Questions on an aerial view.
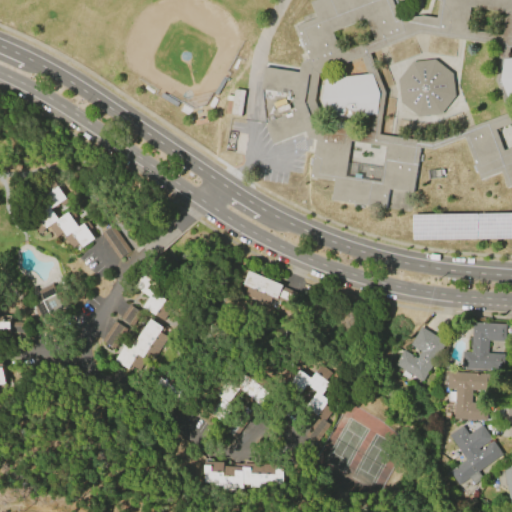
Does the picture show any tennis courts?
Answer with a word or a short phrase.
Yes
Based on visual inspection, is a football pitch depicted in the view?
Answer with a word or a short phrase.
No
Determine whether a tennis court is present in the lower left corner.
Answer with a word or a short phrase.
No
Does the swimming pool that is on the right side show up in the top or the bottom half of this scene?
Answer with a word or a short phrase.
bottom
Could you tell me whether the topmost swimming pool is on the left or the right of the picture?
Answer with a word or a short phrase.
left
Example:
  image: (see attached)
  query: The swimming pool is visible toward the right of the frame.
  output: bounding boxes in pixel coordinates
[450,328,474,366]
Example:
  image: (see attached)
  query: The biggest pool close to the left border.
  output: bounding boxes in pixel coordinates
[20,244,63,289]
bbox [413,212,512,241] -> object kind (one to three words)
building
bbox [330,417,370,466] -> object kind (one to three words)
tennis court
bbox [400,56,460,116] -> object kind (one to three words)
building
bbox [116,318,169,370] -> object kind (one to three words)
house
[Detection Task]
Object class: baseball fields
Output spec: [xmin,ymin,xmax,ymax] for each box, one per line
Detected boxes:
[125,0,240,107]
